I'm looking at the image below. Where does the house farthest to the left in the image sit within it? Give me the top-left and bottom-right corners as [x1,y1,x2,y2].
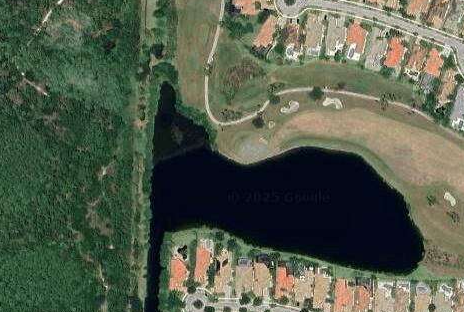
[166,259,187,290]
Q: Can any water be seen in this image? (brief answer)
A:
Yes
